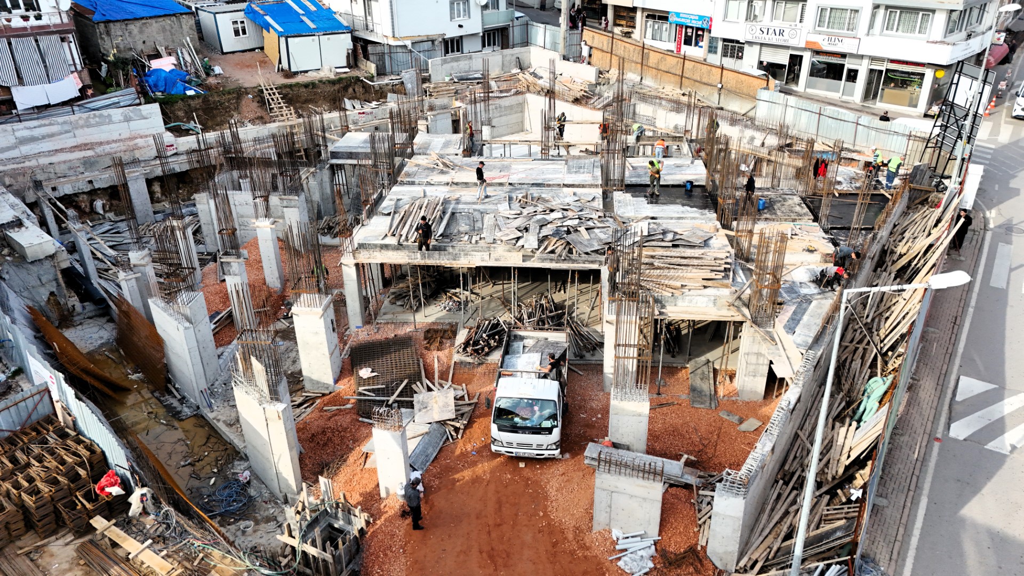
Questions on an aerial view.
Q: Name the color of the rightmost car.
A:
white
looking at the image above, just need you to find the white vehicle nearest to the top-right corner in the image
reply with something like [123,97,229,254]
[998,80,1024,118]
